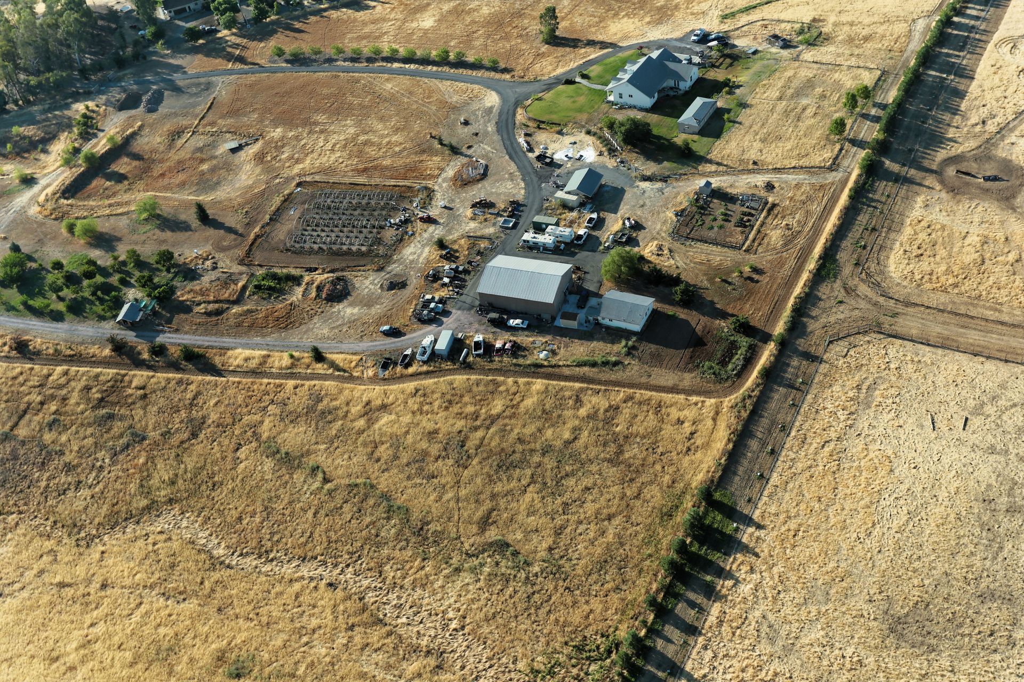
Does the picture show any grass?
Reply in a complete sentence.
Yes, grass can be seen from above here.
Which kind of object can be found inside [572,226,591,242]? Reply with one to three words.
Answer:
vehicle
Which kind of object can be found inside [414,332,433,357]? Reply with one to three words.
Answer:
boat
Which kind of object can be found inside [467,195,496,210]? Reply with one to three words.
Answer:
work vehicle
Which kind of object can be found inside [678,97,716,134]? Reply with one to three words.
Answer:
shed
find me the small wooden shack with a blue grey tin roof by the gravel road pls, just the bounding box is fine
[115,301,146,332]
